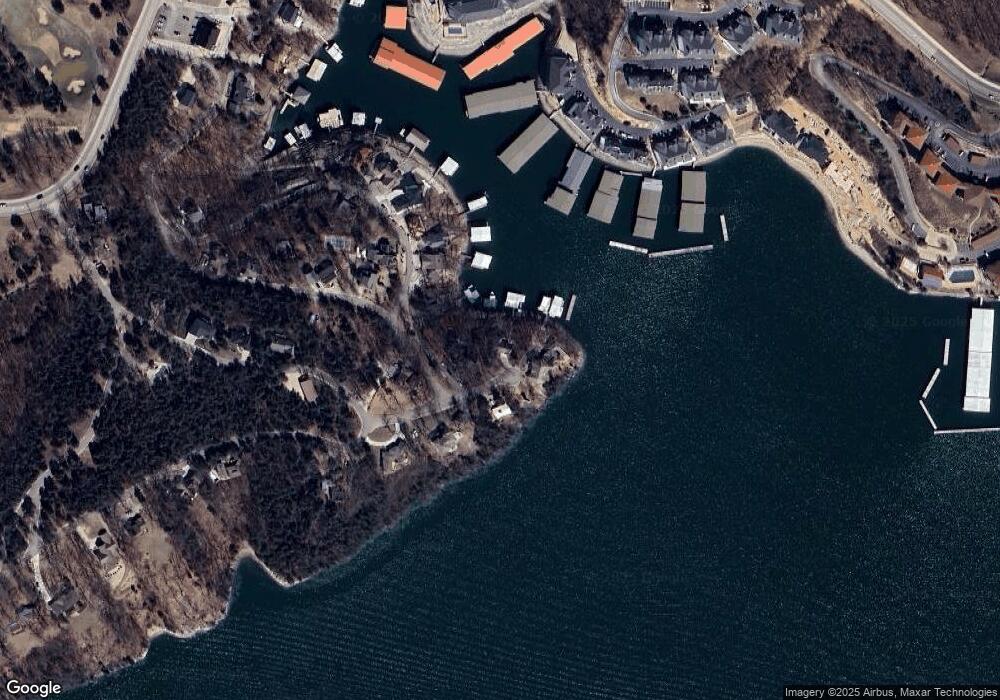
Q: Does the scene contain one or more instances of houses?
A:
Yes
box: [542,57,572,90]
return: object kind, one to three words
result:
building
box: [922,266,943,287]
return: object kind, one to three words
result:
building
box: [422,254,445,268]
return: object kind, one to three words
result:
house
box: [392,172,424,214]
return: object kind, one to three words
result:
house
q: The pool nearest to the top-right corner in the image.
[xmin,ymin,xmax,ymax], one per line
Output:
[947,269,978,285]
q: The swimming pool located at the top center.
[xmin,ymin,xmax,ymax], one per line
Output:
[444,22,466,37]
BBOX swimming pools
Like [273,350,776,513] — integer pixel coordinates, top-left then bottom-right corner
[947,269,978,285]
[444,22,466,37]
